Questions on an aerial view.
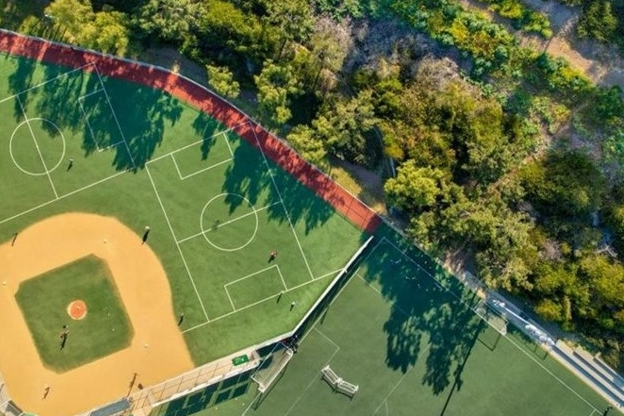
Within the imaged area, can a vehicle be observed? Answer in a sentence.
No, this view has no vehicle in it.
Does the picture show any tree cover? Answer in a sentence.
Yes, the picture does contain tree cover.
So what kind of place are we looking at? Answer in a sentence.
It's a sports ground.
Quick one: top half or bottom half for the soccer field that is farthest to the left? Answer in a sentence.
The soccer field that is farthest to the left is in the top half of the image.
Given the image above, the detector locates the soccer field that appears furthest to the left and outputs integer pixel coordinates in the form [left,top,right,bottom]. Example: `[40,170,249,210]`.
[0,63,135,224]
